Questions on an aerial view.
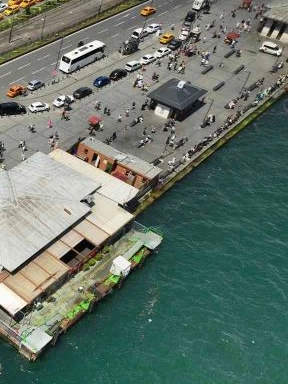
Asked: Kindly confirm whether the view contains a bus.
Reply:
Yes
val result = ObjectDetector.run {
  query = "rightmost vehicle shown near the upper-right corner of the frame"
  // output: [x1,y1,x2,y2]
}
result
[258,44,286,58]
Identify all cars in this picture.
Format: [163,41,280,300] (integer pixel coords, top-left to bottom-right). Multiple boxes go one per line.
[177,30,191,42]
[130,27,149,40]
[69,84,94,101]
[123,59,145,73]
[152,47,173,59]
[108,67,130,83]
[0,4,9,13]
[146,23,164,34]
[24,80,47,92]
[165,39,184,51]
[258,44,286,58]
[27,101,53,114]
[51,95,76,109]
[158,34,176,45]
[8,0,24,6]
[4,85,29,98]
[91,74,113,89]
[180,20,194,31]
[3,5,20,16]
[140,54,159,66]
[20,0,37,9]
[139,7,158,17]
[183,10,197,22]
